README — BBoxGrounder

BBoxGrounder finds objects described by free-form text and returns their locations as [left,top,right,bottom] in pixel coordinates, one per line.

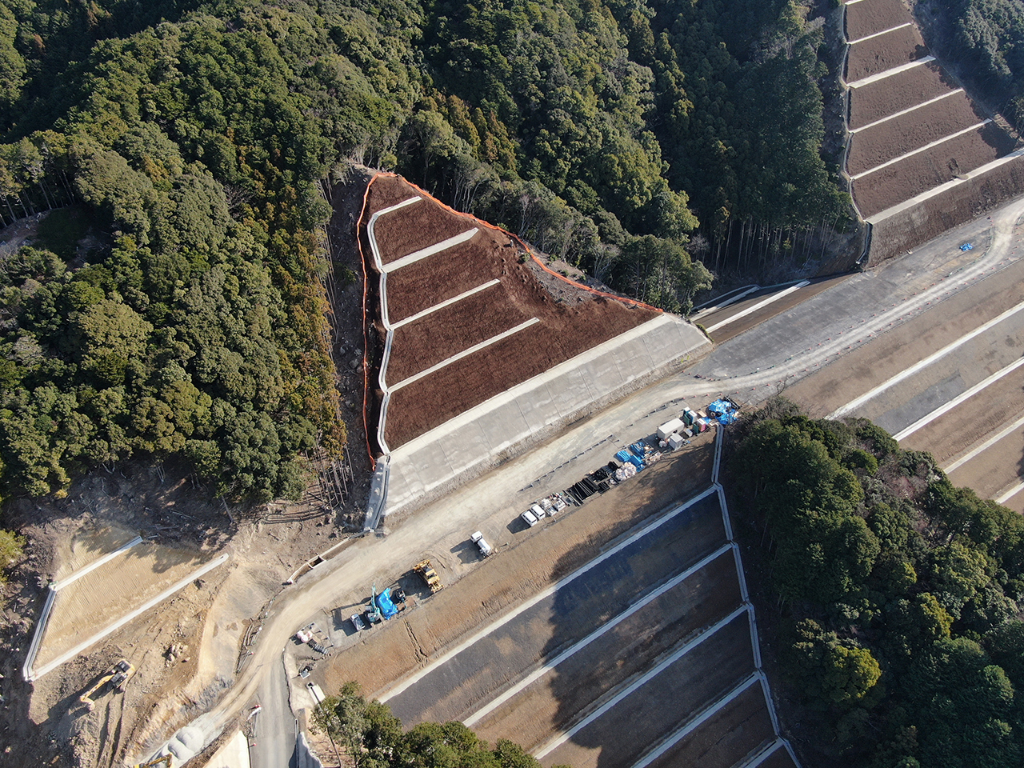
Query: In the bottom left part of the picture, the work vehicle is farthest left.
[75,659,136,710]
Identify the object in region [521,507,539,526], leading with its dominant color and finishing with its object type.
white vehicle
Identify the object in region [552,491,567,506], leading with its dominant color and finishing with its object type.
white vehicle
